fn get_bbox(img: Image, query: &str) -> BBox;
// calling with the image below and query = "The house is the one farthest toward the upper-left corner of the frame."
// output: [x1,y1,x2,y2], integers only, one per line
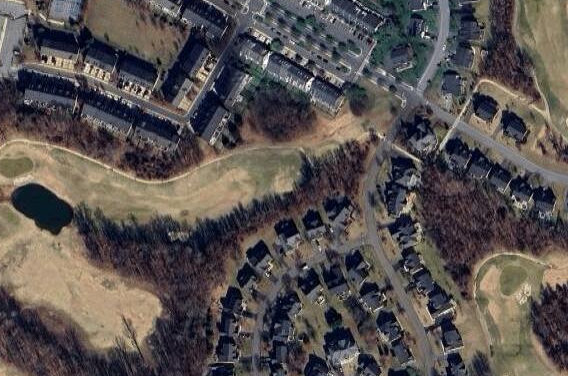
[36,35,81,65]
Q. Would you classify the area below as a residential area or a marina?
residential area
